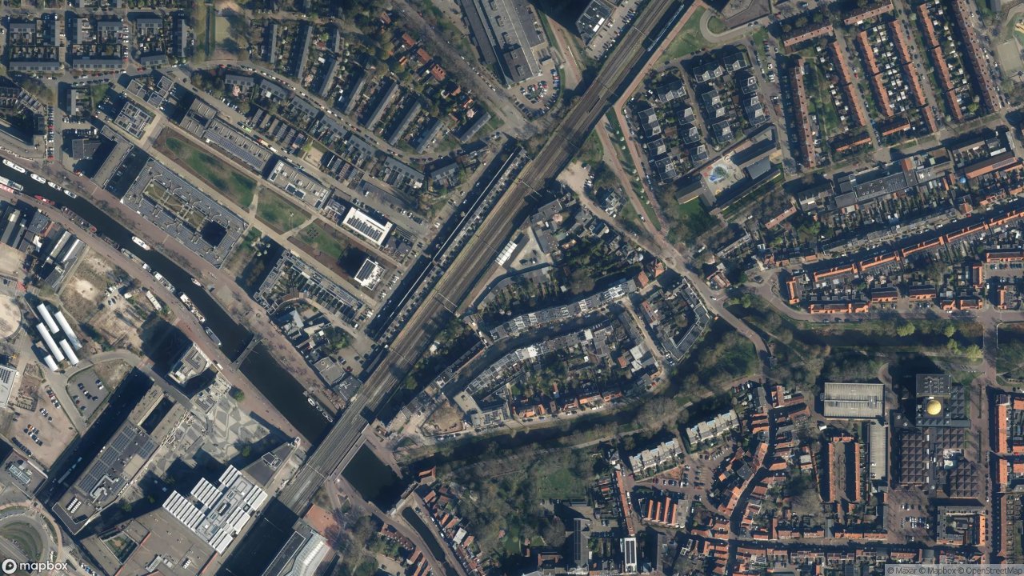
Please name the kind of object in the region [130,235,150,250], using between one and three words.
boat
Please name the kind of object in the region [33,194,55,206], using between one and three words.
vessel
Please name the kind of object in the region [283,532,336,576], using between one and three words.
building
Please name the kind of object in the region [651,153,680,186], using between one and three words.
house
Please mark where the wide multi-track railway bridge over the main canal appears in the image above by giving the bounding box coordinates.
[280,428,370,519]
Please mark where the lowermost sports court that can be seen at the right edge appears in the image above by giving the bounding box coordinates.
[997,38,1024,76]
